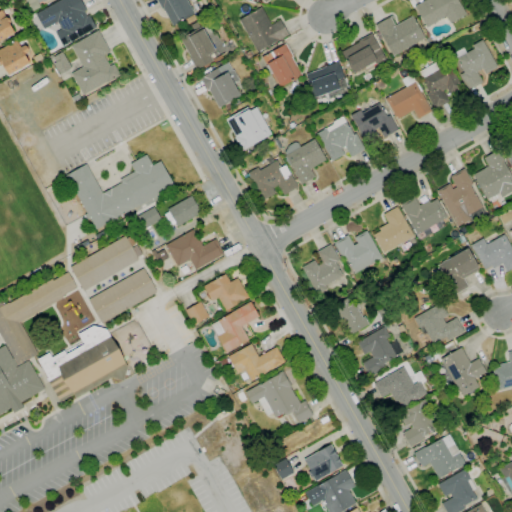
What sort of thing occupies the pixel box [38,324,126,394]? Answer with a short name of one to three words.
building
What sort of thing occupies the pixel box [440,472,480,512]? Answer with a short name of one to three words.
house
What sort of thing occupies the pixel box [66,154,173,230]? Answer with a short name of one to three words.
building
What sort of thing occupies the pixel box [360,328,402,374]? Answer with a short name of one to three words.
house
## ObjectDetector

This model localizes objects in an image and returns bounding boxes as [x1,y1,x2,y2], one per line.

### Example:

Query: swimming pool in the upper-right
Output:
[432,24,452,36]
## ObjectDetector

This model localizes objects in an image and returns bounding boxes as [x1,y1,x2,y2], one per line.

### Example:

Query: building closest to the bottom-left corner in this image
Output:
[0,345,44,416]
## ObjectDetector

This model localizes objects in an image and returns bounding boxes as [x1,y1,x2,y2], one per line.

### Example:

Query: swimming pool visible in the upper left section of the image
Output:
[40,28,58,50]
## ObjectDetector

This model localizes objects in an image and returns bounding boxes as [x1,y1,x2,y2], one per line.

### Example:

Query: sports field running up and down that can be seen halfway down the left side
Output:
[0,118,65,289]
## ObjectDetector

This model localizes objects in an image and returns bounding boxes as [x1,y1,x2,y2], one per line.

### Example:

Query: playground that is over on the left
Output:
[58,291,95,343]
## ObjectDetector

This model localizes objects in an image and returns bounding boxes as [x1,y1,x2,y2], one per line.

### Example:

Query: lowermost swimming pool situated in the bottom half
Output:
[204,328,218,348]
